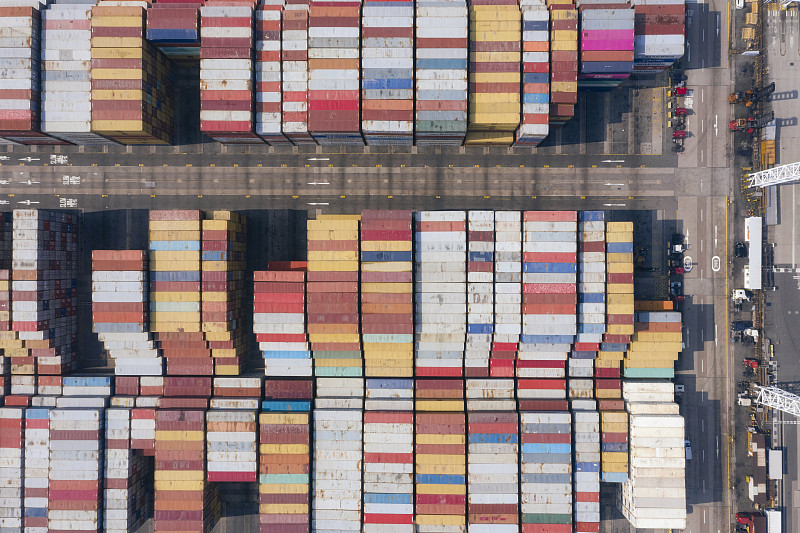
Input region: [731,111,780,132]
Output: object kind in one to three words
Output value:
work vehicle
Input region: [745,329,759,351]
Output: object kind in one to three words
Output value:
vehicle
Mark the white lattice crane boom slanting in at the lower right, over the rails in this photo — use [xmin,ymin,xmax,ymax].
[738,383,800,418]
